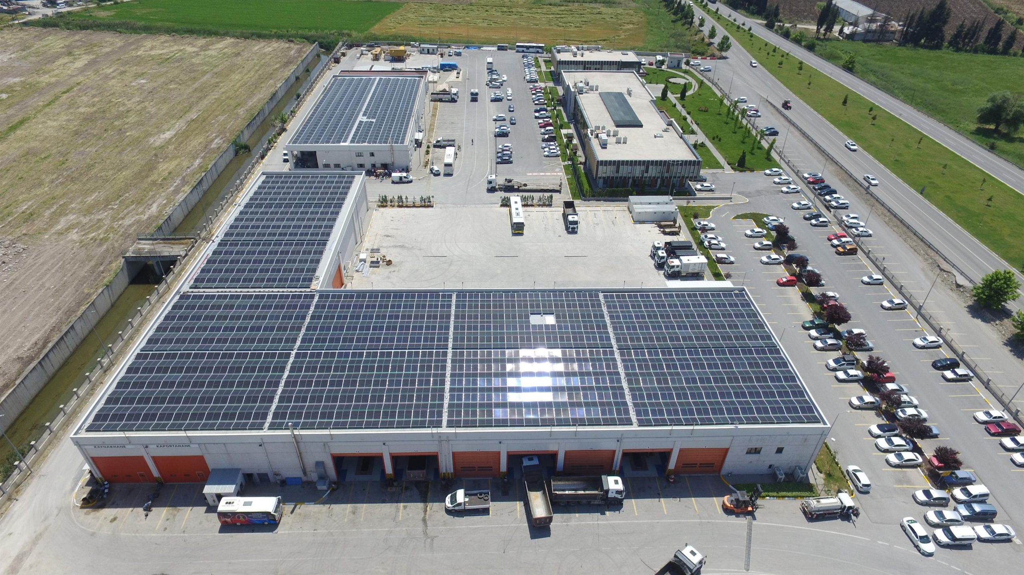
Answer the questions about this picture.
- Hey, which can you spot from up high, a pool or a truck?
truck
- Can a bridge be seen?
Yes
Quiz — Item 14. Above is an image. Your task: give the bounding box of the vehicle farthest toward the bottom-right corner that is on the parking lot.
[973,524,1017,543]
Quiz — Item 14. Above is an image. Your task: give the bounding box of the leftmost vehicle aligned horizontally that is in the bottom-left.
[208,498,286,531]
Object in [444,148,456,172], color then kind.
white vehicle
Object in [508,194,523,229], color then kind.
white vehicle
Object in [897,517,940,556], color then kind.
white car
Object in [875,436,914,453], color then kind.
white car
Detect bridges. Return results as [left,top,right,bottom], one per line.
[117,234,193,268]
